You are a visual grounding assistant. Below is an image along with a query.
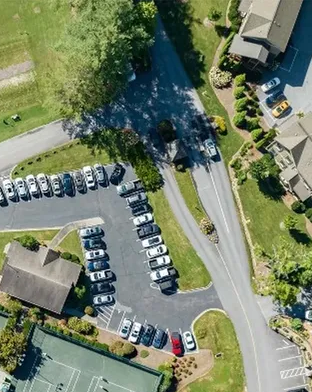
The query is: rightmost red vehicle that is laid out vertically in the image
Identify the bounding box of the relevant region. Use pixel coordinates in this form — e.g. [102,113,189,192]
[171,332,184,356]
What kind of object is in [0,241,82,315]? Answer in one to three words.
building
